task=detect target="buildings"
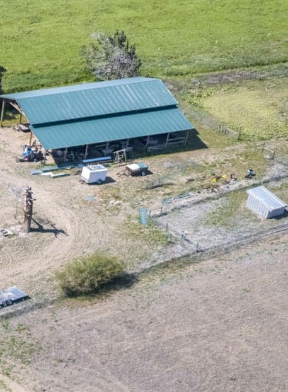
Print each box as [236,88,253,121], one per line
[248,184,288,219]
[2,75,195,161]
